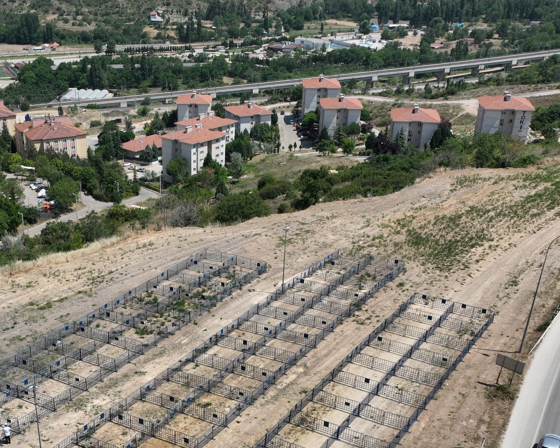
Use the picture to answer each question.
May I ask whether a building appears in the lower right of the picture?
No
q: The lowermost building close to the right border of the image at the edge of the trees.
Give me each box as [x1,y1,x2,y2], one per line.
[468,91,538,145]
